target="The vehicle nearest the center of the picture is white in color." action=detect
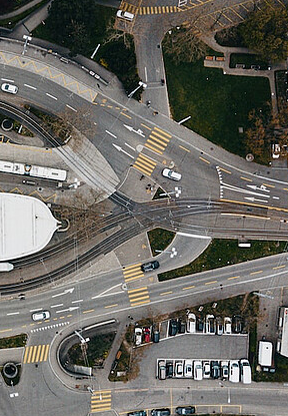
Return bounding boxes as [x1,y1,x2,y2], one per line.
[162,168,182,181]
